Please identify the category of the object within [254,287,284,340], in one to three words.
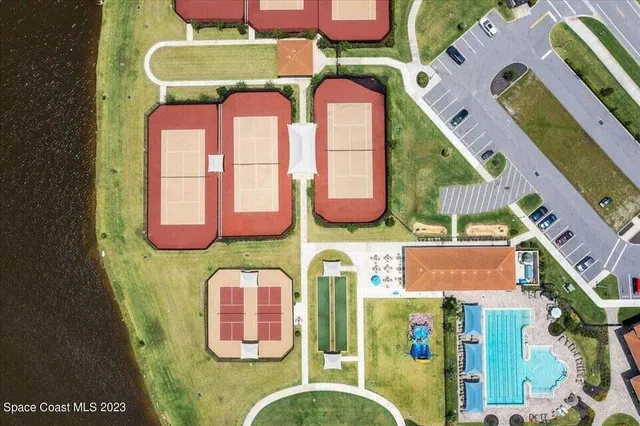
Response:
sports court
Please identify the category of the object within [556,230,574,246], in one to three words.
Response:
car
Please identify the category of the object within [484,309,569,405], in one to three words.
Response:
swimming pool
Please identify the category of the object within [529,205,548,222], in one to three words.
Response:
car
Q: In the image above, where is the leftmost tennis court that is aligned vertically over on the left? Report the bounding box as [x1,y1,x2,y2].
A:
[149,104,218,248]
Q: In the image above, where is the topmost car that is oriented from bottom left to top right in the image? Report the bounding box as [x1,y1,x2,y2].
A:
[451,110,468,126]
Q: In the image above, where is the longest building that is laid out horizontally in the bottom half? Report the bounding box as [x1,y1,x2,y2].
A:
[405,246,516,291]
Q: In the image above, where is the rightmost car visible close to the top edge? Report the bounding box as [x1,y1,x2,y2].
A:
[481,18,498,37]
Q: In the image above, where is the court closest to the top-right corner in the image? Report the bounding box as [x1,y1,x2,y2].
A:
[319,0,390,40]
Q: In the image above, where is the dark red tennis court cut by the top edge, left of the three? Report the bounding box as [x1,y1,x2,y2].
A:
[176,0,244,22]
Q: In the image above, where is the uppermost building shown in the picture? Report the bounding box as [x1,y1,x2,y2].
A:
[278,39,313,76]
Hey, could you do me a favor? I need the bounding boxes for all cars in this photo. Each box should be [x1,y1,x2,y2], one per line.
[556,230,574,246]
[481,18,498,37]
[576,255,594,272]
[448,46,464,64]
[529,205,548,222]
[598,195,613,208]
[480,148,494,162]
[538,213,556,230]
[633,277,640,295]
[451,110,468,126]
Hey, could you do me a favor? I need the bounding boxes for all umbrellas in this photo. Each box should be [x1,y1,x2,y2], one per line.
[549,307,561,318]
[371,275,381,285]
